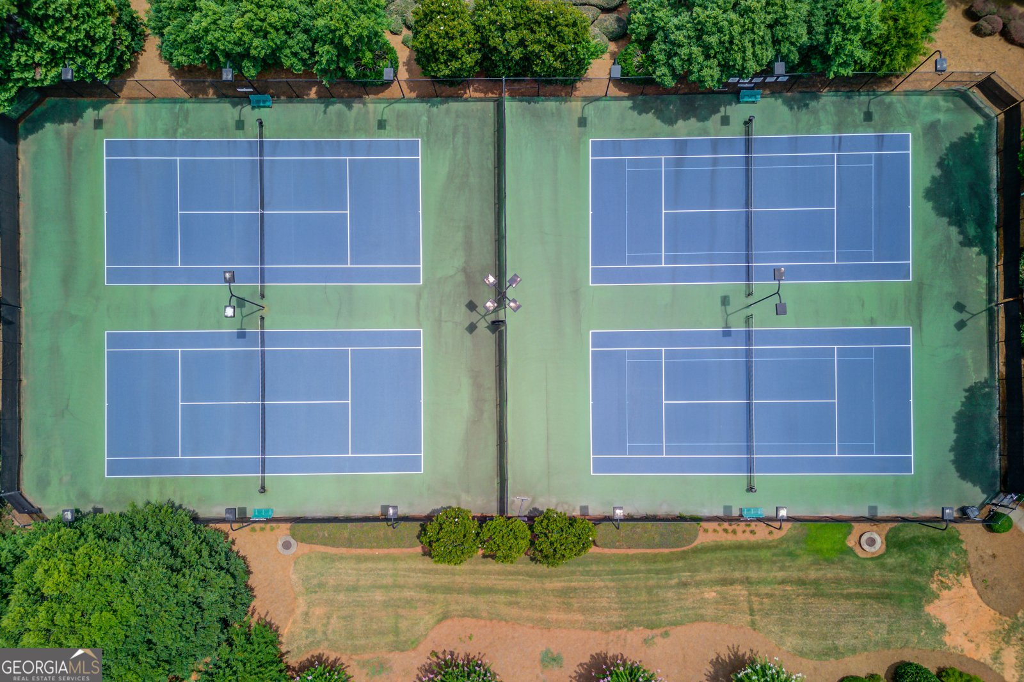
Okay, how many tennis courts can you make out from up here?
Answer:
4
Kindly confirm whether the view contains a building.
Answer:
No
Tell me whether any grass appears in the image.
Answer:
Yes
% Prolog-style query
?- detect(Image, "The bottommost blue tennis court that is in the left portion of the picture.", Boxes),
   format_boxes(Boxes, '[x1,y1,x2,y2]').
[104,329,423,478]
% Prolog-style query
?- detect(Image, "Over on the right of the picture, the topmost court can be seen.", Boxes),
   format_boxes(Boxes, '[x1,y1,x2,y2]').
[590,133,912,285]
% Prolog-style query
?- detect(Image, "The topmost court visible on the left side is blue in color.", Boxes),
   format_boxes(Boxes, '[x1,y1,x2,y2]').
[104,138,422,285]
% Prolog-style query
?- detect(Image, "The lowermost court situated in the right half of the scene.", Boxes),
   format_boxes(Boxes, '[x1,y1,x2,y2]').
[590,327,914,476]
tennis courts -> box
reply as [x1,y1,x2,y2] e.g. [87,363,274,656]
[590,327,914,476]
[104,329,423,478]
[590,133,912,285]
[104,138,422,285]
